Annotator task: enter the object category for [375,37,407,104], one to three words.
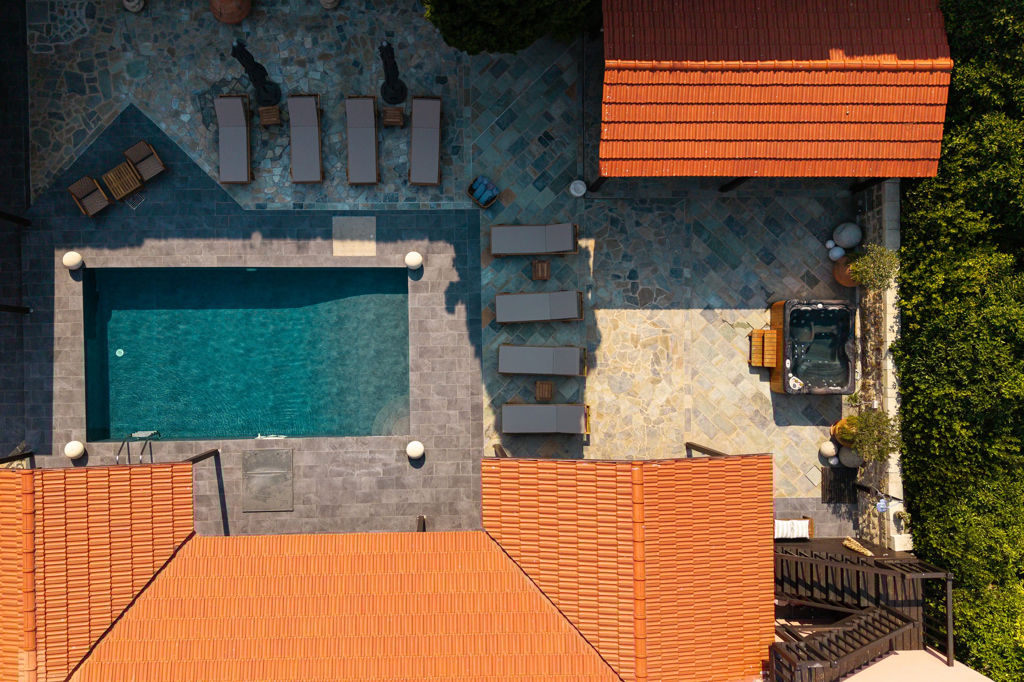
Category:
umbrella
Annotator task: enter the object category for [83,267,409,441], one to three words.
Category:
swimming pool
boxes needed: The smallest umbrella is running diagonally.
[842,534,875,557]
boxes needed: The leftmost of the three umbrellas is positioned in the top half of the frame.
[228,38,283,106]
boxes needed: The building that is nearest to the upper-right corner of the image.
[584,0,953,194]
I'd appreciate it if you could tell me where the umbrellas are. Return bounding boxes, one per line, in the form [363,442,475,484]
[228,38,283,106]
[842,534,875,557]
[375,37,407,104]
